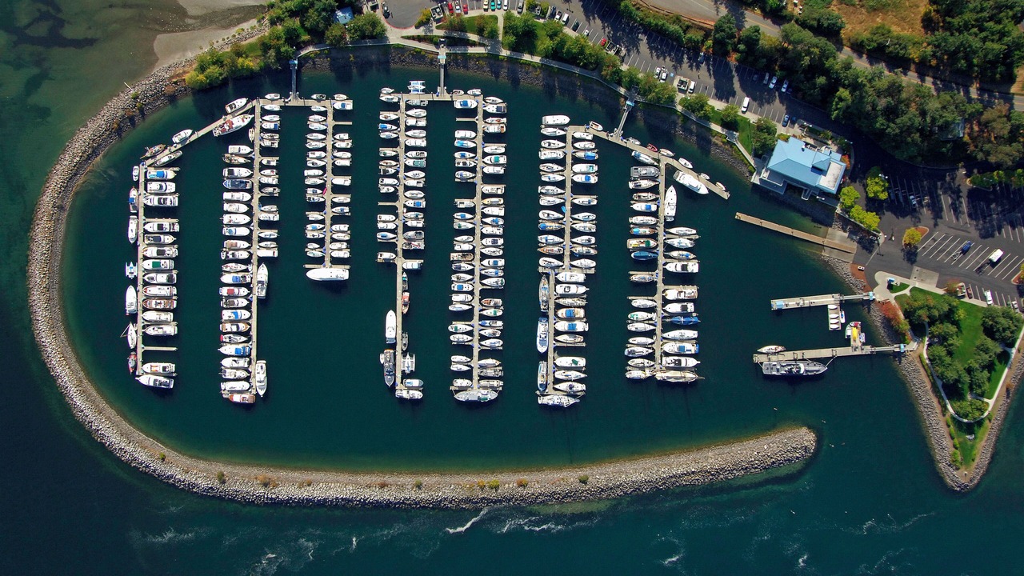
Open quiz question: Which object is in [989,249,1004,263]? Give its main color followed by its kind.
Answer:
white vehicle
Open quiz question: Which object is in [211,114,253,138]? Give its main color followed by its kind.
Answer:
white boat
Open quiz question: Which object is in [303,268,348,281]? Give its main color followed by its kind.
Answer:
white boat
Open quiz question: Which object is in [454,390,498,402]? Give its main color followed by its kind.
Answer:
white vessel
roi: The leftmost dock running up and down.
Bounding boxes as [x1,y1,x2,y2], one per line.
[136,161,181,376]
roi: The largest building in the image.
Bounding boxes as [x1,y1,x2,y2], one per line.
[749,134,845,207]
